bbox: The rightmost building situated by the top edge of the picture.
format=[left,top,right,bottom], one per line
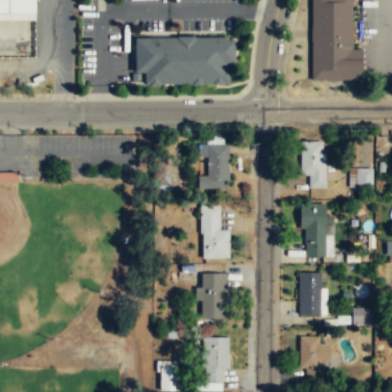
[314,0,366,80]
